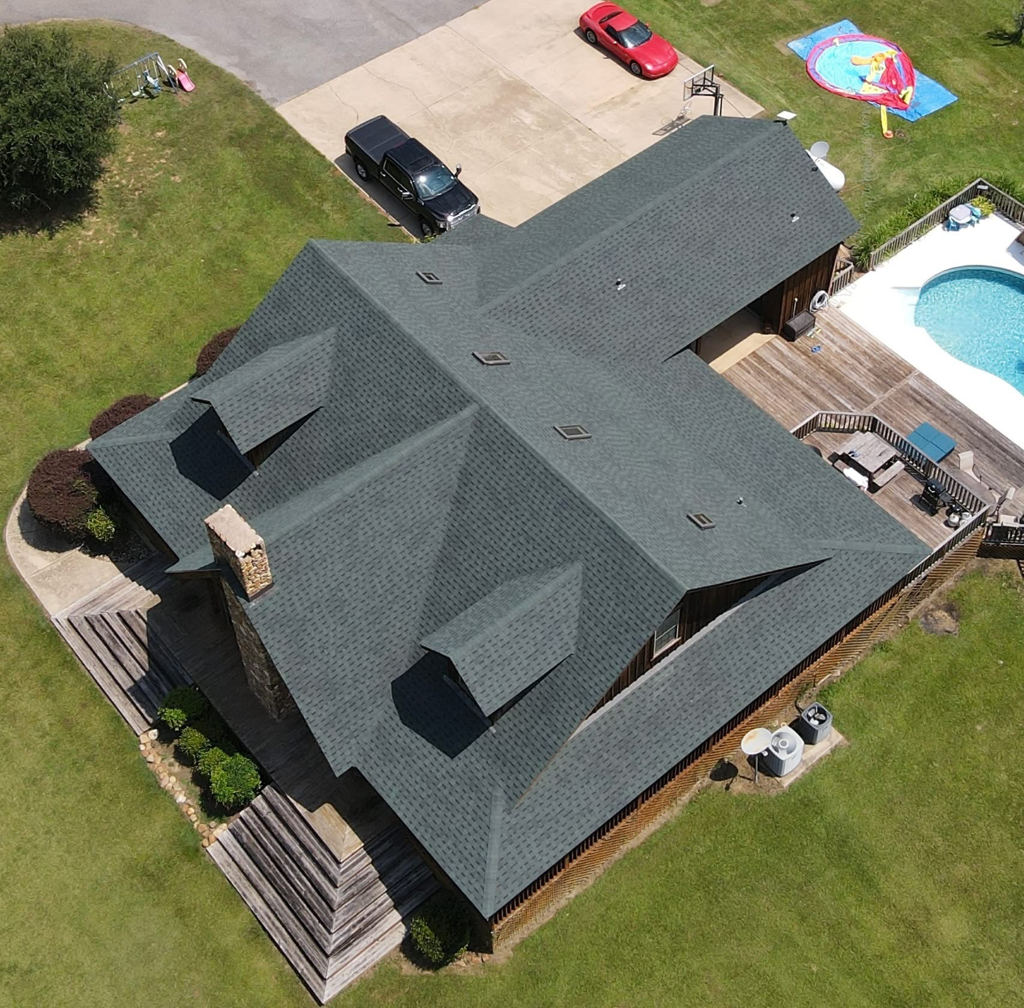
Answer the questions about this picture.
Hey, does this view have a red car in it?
Yes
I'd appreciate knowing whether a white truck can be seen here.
No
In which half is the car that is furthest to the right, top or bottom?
top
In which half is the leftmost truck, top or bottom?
top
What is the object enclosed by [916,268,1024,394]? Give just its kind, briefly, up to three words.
swimming pool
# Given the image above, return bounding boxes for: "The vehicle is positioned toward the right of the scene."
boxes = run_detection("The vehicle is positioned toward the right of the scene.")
[584,4,678,79]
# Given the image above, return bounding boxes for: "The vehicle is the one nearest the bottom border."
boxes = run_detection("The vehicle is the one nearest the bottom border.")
[344,120,479,238]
